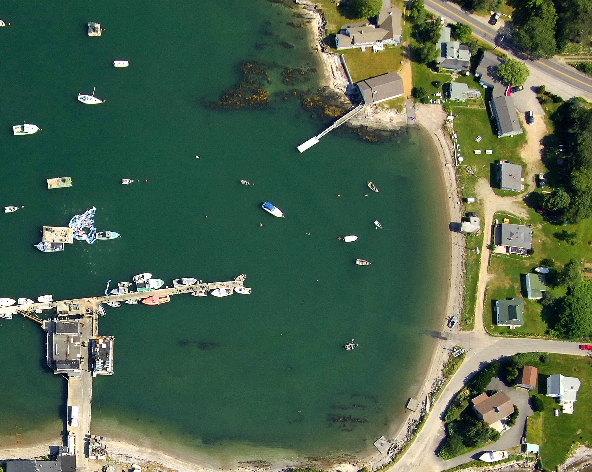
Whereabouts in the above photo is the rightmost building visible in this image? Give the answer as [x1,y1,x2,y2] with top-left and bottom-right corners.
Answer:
[543,374,581,414]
